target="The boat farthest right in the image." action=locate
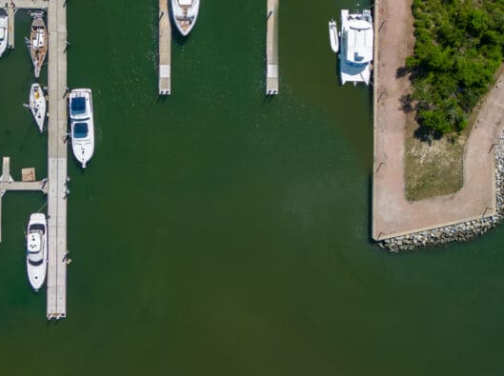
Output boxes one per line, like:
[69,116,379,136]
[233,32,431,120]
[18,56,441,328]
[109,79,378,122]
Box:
[339,10,373,85]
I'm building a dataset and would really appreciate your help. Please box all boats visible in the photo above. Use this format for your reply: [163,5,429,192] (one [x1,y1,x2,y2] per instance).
[339,10,373,85]
[28,206,50,291]
[66,89,94,169]
[0,17,9,57]
[171,0,200,36]
[29,84,46,130]
[328,18,339,52]
[30,20,46,73]
[29,10,44,15]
